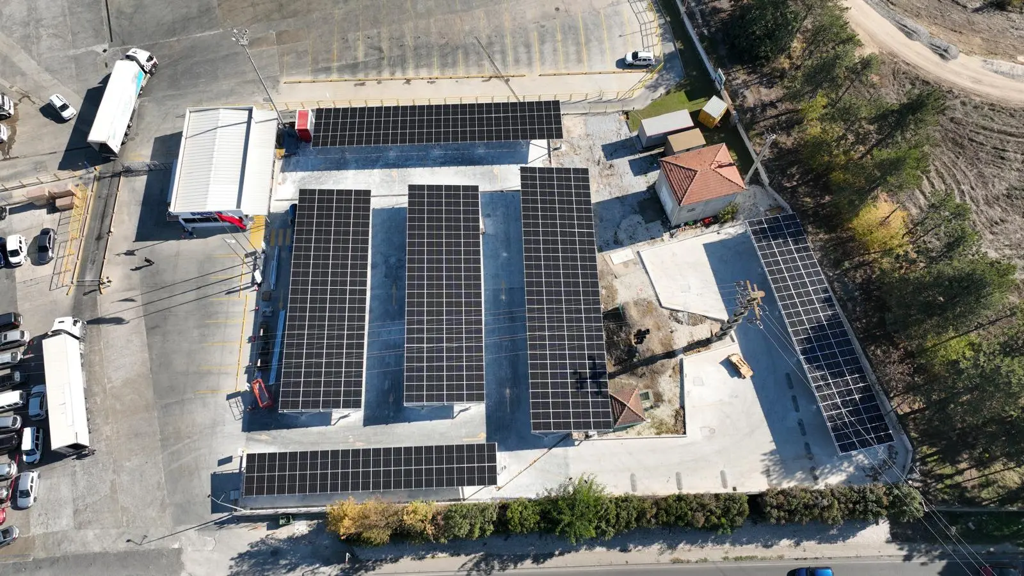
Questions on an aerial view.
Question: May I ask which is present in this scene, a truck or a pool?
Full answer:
Visible in the photo is a truck.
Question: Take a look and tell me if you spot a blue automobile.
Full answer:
Yes, there is a blue automobile in the image.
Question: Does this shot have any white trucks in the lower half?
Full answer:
Yes, a white truck shows up in the lower half.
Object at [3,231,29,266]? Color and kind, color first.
white vehicle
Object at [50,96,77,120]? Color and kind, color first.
white car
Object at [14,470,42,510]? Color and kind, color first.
white car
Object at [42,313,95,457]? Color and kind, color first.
white truck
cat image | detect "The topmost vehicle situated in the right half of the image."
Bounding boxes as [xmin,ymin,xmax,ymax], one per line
[624,50,656,67]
